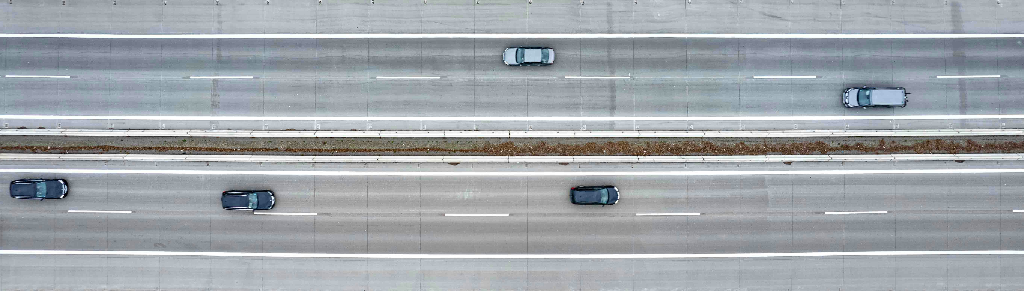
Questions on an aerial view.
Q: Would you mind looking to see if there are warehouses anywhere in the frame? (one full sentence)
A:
No, I can't see a single warehouse in this photo.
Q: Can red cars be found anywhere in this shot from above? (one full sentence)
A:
No, no red car can be seen from above.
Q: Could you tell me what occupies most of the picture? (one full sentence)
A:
The bulk of the photo consists of paved ground.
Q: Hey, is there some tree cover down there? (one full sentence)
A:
No, there's no tree cover in this view.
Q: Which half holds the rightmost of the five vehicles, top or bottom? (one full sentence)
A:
The top half of the photo is where the rightmost of the five vehicles is.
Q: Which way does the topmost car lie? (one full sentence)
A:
Seen from above, the topmost car lies from side to side.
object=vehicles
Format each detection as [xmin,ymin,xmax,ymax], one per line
[221,189,275,212]
[9,177,69,201]
[843,86,912,110]
[502,45,555,68]
[570,184,620,207]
